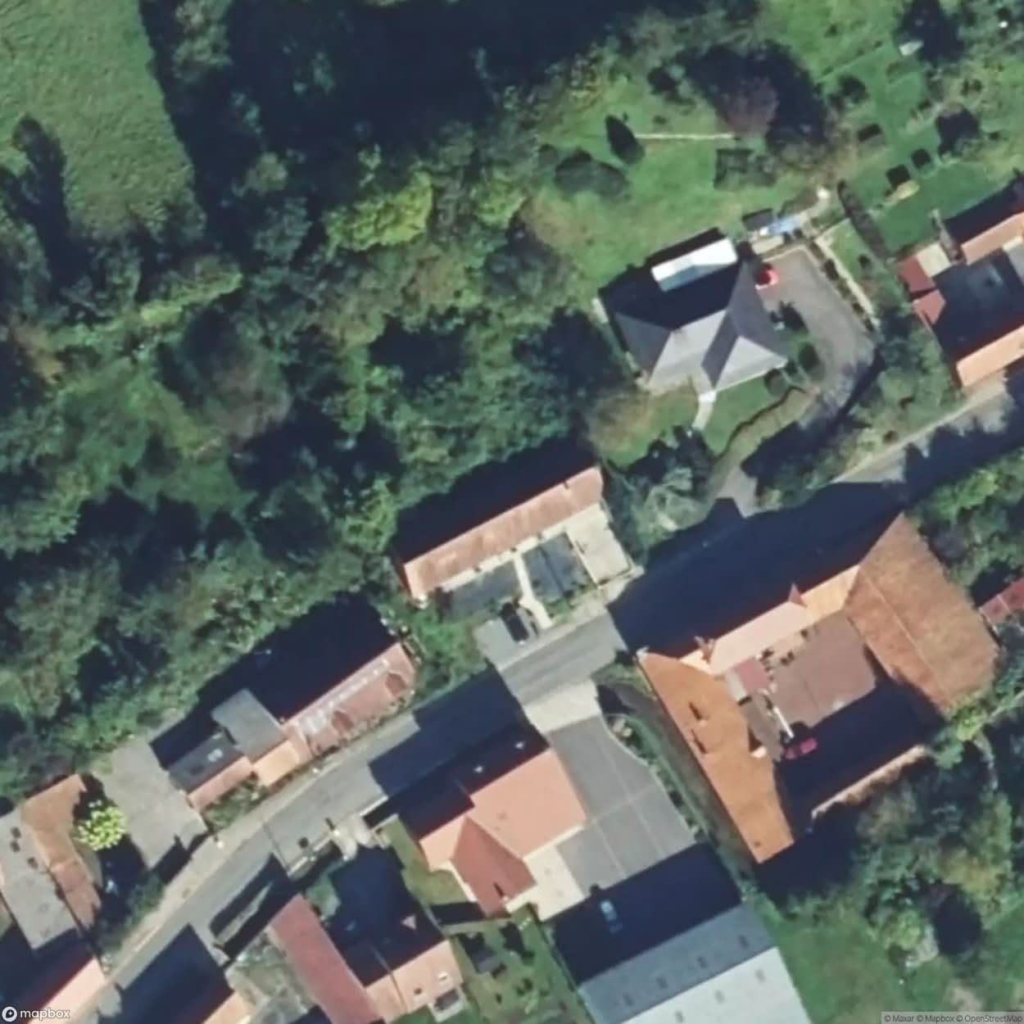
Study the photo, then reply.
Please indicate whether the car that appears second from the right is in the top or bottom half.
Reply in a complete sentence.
The bottom half of the photo is where the car that appears second from the right is.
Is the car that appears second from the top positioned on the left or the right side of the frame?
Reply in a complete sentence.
It is on the right.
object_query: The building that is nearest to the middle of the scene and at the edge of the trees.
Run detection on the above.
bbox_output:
[389,439,603,600]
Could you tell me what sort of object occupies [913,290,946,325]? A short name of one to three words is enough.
shed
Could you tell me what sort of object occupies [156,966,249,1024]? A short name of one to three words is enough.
house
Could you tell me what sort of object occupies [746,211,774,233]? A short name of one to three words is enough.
shed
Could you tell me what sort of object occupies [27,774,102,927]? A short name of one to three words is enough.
building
